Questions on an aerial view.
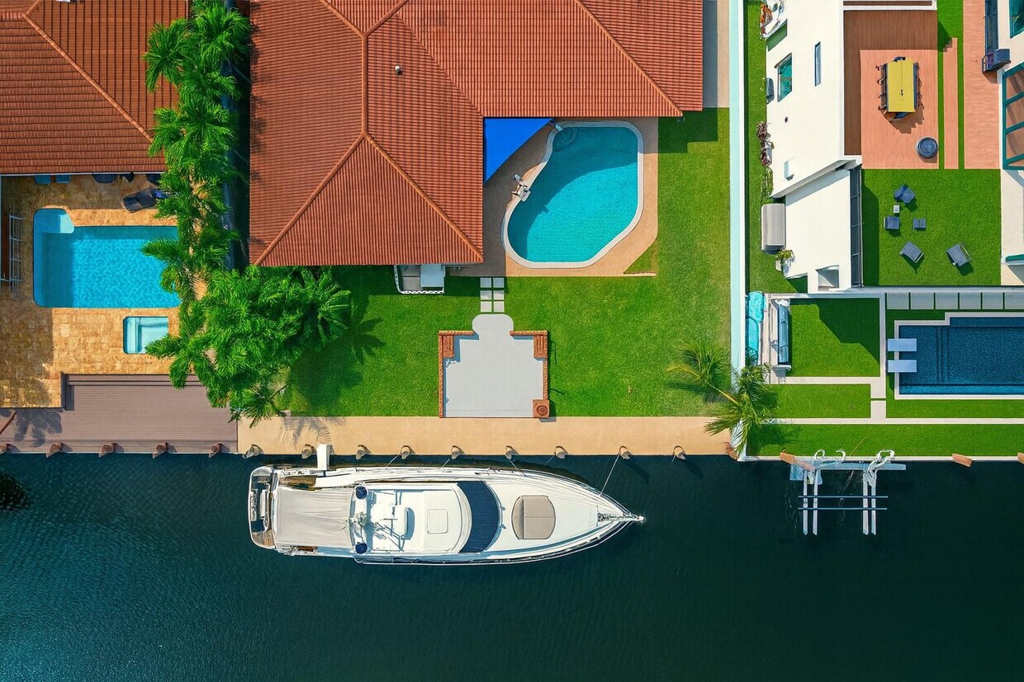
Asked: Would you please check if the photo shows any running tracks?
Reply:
No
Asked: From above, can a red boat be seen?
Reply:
No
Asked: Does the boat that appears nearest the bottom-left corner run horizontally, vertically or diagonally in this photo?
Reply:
horizontally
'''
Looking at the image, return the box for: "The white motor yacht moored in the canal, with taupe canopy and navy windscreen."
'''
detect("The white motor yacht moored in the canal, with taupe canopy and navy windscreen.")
[248,459,644,568]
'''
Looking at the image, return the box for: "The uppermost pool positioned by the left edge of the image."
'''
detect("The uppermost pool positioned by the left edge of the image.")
[34,208,180,308]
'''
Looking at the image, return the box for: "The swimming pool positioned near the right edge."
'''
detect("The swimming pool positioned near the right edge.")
[894,312,1024,400]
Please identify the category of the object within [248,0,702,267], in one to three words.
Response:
house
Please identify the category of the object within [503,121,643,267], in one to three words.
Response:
swimming pool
